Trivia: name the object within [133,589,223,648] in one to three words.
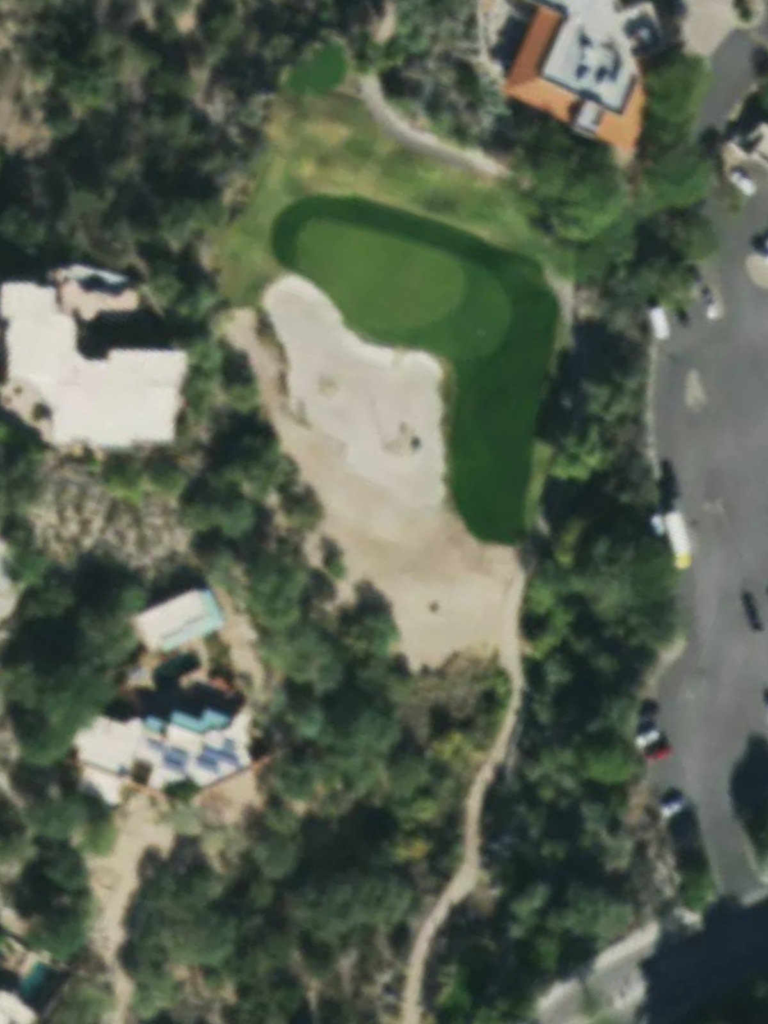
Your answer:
shed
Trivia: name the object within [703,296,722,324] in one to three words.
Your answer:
car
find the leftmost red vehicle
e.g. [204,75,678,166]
[644,743,673,764]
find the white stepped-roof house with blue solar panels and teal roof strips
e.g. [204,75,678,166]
[75,707,254,805]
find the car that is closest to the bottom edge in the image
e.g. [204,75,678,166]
[659,797,686,818]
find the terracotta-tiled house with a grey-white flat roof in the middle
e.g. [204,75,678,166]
[506,0,646,147]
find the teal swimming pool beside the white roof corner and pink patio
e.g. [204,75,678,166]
[18,959,72,1021]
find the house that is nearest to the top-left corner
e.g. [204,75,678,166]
[1,283,187,444]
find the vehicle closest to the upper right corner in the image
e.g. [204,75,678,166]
[729,169,757,196]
